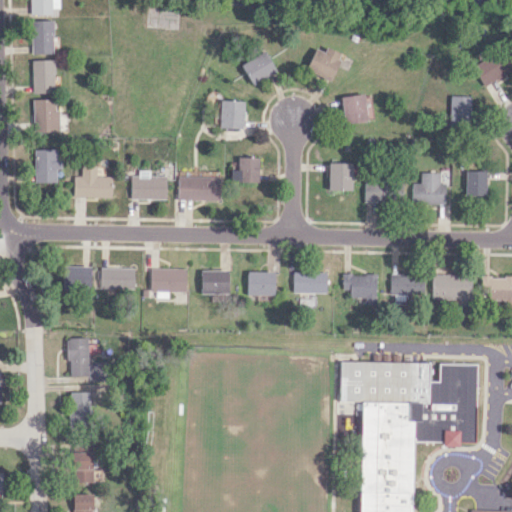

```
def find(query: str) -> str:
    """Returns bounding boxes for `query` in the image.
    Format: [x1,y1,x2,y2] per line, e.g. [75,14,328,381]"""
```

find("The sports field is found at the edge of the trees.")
[182,352,332,512]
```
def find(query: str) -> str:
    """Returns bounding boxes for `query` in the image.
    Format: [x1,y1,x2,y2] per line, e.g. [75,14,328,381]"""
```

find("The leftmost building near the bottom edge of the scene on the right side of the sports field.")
[341,362,479,512]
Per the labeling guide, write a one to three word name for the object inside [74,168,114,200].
house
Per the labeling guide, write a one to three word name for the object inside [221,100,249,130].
house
